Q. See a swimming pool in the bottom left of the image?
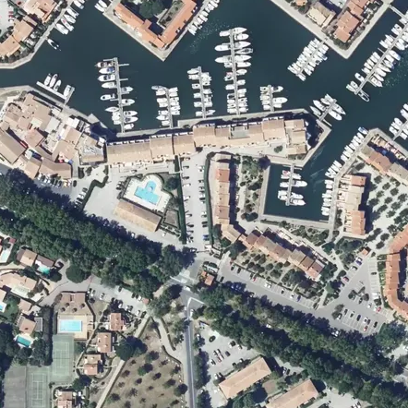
Yes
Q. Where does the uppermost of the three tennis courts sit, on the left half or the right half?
left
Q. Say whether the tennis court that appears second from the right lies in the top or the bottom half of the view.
bottom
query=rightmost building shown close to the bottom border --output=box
[288,380,318,408]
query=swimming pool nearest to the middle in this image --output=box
[123,174,169,211]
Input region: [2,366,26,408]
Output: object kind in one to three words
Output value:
tennis court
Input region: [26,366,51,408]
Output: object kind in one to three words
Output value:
tennis court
